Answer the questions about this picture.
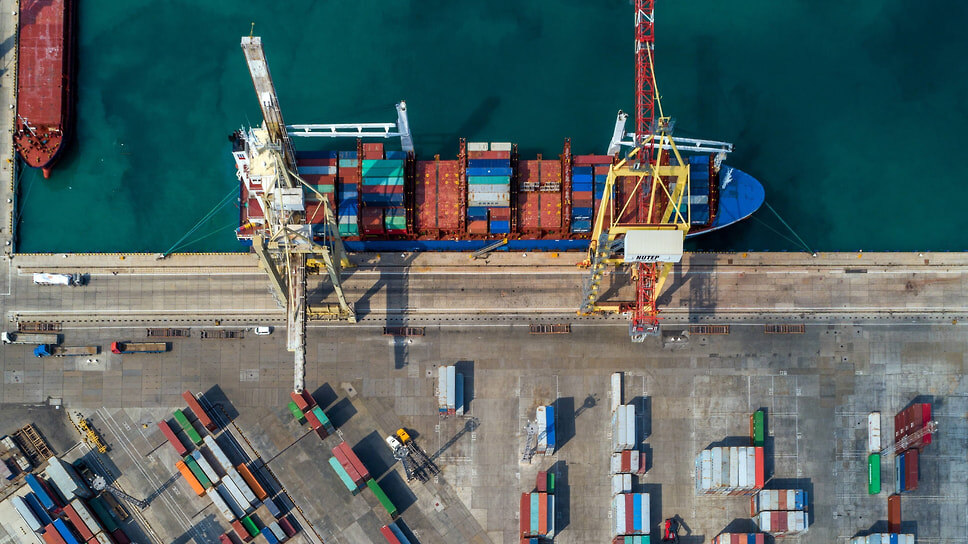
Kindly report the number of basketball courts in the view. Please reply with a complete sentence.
No basketball courts are visible.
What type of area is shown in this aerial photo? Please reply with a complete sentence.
It's a port.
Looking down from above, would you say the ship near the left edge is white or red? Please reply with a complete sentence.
The color of the ship near the left edge is red.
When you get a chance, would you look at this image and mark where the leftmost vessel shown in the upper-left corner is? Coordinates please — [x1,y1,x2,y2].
[11,0,76,179]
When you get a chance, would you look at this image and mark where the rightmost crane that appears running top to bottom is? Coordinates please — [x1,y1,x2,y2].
[567,0,693,353]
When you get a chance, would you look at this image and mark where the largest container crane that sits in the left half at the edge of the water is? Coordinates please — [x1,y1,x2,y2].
[234,22,360,395]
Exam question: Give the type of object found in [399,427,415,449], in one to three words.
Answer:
work vehicle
